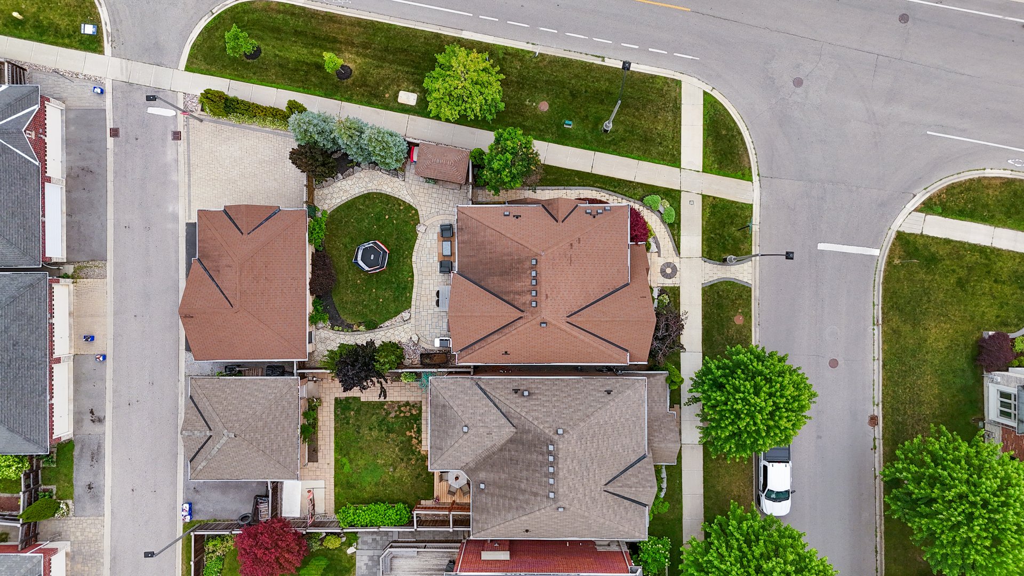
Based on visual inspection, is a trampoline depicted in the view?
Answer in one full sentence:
Yes, a trampoline appears in the view.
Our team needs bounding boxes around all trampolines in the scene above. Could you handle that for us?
[353,241,388,273]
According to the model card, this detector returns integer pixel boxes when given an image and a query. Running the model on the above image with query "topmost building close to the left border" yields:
[0,82,84,269]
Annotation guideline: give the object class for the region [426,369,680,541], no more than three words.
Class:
house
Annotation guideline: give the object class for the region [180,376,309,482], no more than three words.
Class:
building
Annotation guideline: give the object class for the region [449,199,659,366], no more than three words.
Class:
house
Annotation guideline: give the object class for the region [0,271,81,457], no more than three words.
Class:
building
